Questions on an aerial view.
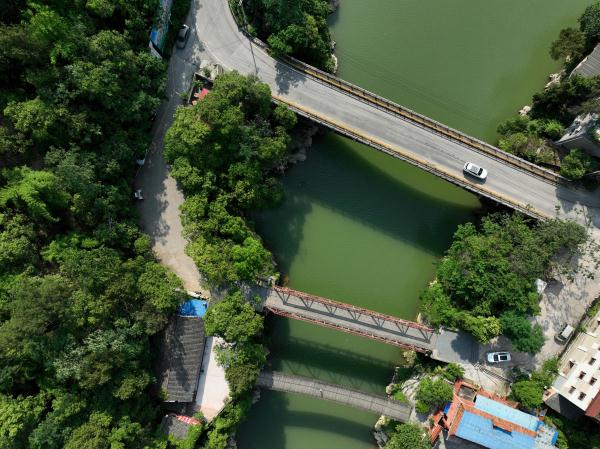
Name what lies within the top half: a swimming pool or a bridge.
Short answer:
bridge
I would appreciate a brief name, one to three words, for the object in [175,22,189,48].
car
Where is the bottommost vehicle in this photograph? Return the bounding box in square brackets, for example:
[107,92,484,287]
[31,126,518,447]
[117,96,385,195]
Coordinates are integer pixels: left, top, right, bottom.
[488,352,513,365]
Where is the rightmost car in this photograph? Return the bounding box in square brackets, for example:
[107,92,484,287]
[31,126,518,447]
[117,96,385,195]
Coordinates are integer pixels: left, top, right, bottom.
[556,324,578,345]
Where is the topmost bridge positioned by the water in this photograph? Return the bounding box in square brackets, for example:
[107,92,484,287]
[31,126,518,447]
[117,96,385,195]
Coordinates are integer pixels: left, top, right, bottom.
[270,57,576,225]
